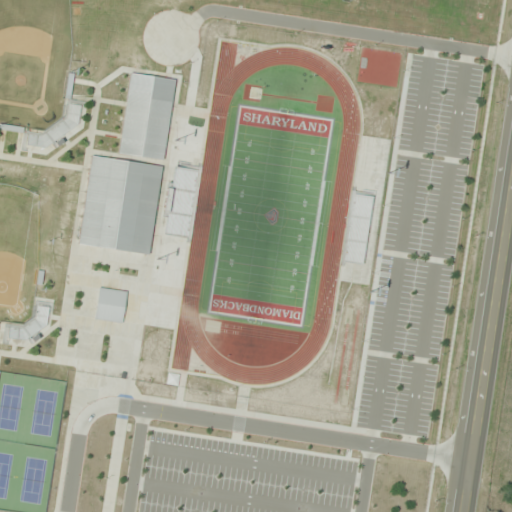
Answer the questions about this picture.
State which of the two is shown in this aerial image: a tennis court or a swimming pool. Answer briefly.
tennis court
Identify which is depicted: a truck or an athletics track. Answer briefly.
athletics track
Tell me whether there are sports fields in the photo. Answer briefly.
Yes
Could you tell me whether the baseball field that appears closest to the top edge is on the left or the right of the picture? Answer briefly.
left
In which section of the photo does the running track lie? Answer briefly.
center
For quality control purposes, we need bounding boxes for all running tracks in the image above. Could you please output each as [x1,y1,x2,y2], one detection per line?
[174,42,363,388]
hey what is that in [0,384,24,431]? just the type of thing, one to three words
tennis court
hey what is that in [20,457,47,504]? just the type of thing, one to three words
tennis court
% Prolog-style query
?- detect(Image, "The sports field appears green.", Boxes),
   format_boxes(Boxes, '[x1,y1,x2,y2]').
[200,66,343,332]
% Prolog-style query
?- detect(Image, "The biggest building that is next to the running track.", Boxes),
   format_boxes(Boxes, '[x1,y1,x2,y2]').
[79,156,164,253]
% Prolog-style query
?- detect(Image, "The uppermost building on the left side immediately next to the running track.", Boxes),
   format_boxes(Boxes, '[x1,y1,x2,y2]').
[120,73,178,159]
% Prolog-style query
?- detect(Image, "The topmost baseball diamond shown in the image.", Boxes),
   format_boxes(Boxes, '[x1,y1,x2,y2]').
[0,0,56,114]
